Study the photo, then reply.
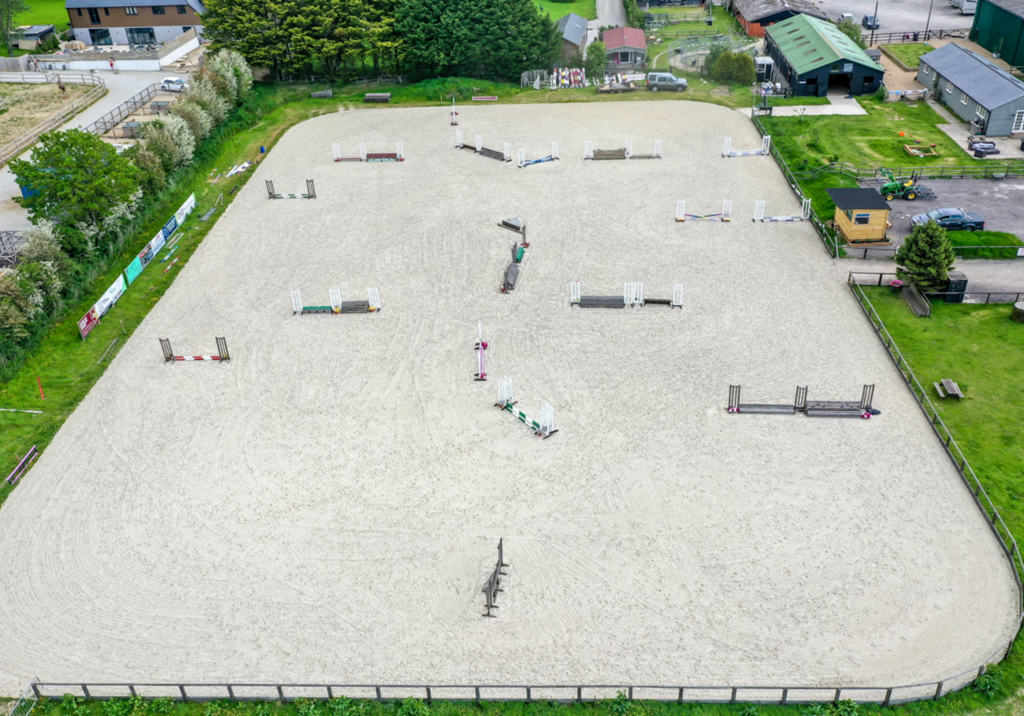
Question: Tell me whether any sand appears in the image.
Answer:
Yes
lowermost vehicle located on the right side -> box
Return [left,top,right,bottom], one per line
[906,198,985,231]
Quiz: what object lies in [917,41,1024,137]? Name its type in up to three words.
house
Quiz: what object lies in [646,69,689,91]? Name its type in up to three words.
car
